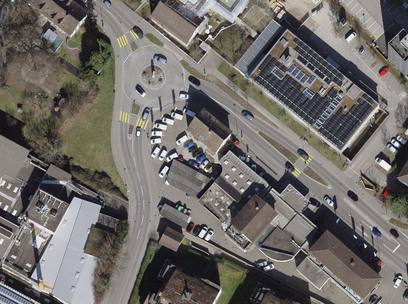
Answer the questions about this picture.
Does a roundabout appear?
Yes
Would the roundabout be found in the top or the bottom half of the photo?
top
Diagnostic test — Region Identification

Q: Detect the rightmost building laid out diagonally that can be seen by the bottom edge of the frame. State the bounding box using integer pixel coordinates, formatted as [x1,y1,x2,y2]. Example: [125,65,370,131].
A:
[308,230,382,304]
